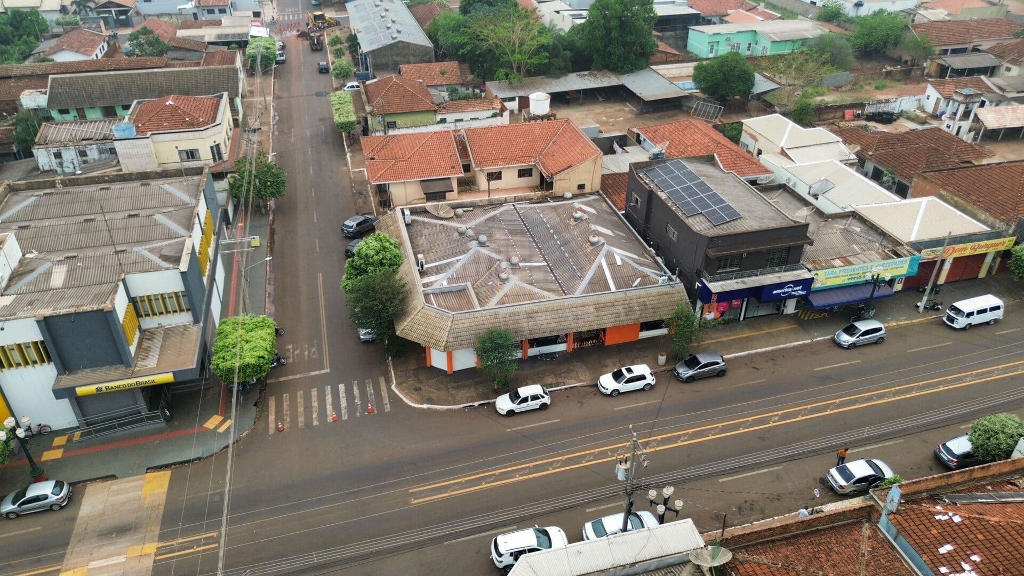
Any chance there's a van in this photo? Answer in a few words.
Yes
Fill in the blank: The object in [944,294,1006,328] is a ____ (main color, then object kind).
white van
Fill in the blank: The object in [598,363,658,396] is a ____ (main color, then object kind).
white car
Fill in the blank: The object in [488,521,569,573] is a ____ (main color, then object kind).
white car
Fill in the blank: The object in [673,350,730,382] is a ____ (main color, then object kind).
gray car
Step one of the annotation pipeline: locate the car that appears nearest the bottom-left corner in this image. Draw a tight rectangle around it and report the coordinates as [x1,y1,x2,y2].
[0,477,74,518]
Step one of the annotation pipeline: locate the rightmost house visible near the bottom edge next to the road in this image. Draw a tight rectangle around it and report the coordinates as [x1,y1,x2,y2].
[867,455,1024,576]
